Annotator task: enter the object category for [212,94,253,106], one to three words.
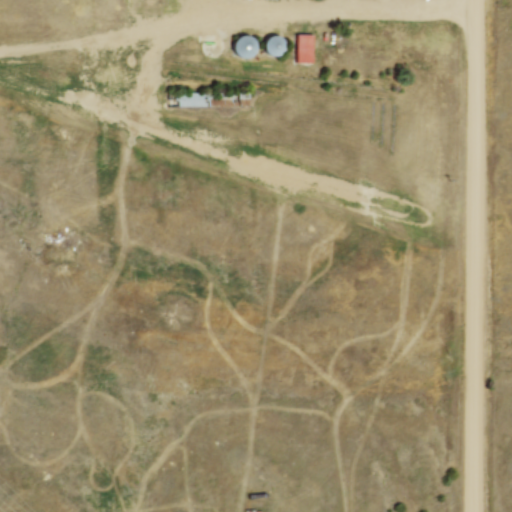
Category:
shed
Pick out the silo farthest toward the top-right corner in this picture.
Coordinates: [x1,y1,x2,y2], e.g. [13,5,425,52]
[264,35,288,58]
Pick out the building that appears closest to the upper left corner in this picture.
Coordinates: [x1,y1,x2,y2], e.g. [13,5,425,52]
[178,94,210,107]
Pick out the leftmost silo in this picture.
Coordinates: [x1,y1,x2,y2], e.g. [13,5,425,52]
[234,36,259,59]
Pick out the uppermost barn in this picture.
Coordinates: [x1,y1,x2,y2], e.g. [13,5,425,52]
[297,34,314,64]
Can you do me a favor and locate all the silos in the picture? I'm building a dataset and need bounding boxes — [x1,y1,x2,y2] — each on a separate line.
[234,36,259,59]
[264,35,288,58]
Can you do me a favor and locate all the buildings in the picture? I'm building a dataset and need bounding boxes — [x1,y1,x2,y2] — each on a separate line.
[297,34,314,64]
[212,94,253,106]
[178,94,210,107]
